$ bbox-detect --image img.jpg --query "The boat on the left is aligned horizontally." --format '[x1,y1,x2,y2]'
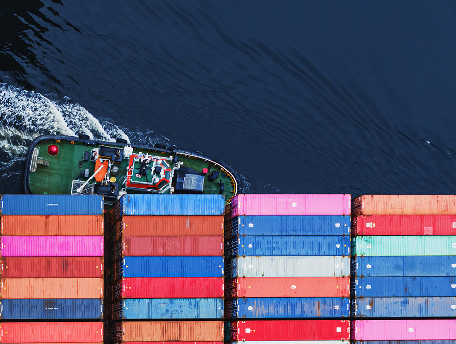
[21,132,242,205]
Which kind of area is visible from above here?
port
